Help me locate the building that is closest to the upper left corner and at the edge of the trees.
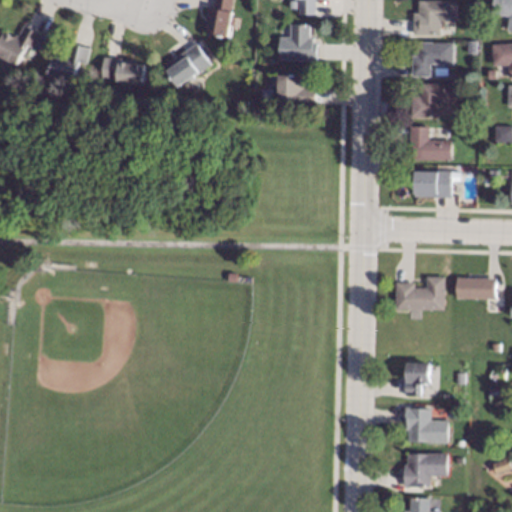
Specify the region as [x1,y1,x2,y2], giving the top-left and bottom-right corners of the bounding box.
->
[0,26,36,66]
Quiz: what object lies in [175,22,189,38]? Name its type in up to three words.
vehicle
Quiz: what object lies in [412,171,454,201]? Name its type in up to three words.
house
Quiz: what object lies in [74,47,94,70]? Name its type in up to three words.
building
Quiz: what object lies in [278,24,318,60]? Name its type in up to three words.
house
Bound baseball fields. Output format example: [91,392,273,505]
[0,256,253,505]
